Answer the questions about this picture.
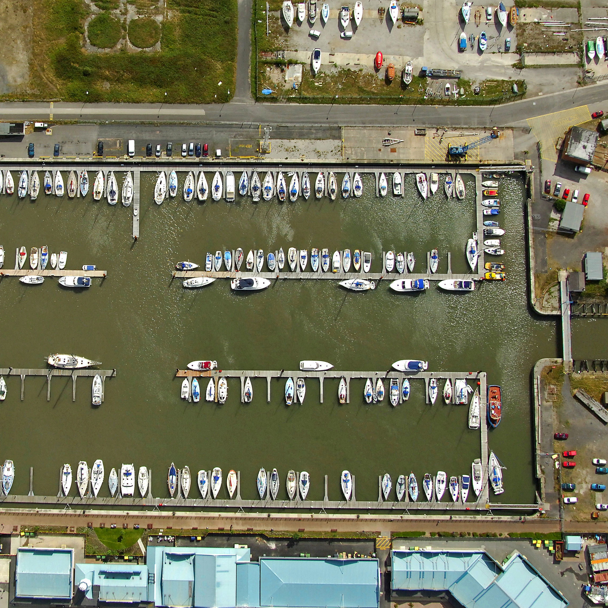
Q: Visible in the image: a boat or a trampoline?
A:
boat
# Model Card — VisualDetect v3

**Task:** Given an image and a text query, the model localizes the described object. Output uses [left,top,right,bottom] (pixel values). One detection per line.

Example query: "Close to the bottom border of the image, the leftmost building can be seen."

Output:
[16,549,74,598]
